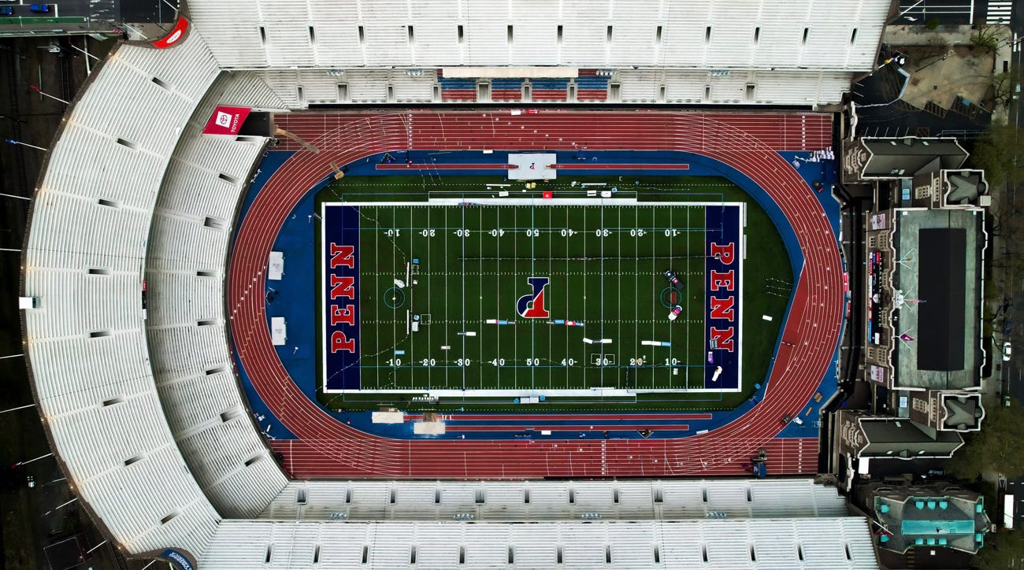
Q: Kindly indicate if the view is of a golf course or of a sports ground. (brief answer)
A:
sports ground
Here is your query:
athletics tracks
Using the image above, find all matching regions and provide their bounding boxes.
[228,111,847,478]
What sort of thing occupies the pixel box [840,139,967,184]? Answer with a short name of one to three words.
building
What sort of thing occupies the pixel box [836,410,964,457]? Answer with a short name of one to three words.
building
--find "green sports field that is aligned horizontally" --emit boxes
[315,176,793,411]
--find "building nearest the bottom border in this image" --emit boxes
[850,471,991,554]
